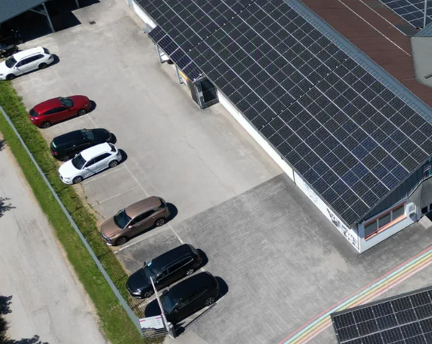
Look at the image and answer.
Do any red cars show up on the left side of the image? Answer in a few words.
Yes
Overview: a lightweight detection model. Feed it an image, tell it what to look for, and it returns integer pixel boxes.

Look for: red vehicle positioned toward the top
[29,97,89,129]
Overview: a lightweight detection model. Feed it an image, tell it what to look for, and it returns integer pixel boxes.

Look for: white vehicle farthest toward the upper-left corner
[0,46,52,81]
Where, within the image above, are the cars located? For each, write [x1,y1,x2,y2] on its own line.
[29,97,89,129]
[144,274,223,332]
[100,198,171,247]
[0,46,52,81]
[124,246,203,302]
[46,127,112,163]
[60,145,122,184]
